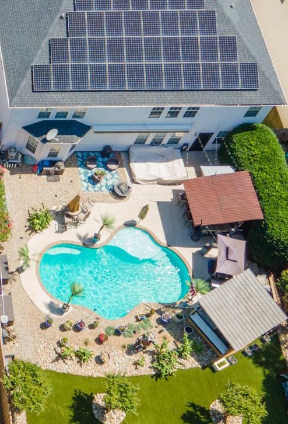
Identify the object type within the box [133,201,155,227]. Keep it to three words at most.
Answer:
umbrella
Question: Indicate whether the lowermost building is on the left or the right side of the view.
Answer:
right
